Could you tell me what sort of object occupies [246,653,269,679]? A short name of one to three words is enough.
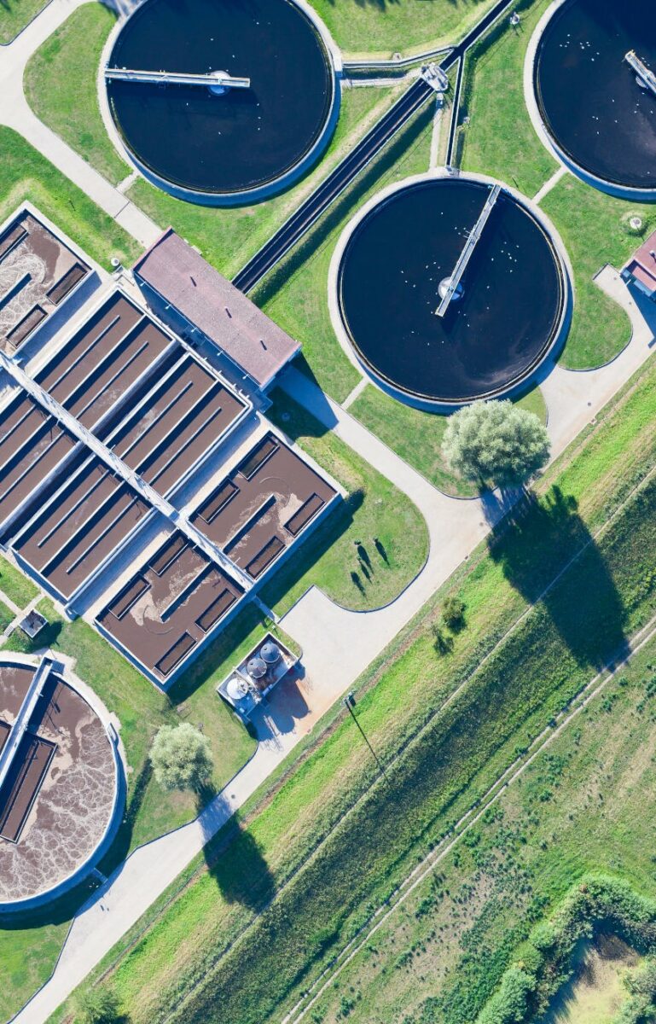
silo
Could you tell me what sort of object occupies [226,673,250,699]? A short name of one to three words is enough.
silo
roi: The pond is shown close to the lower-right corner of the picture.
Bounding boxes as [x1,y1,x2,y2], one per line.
[540,927,633,1024]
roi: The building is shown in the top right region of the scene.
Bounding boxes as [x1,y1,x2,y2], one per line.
[620,238,656,305]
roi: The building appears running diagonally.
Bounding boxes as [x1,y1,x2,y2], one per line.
[133,226,302,390]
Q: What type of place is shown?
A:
industrial area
